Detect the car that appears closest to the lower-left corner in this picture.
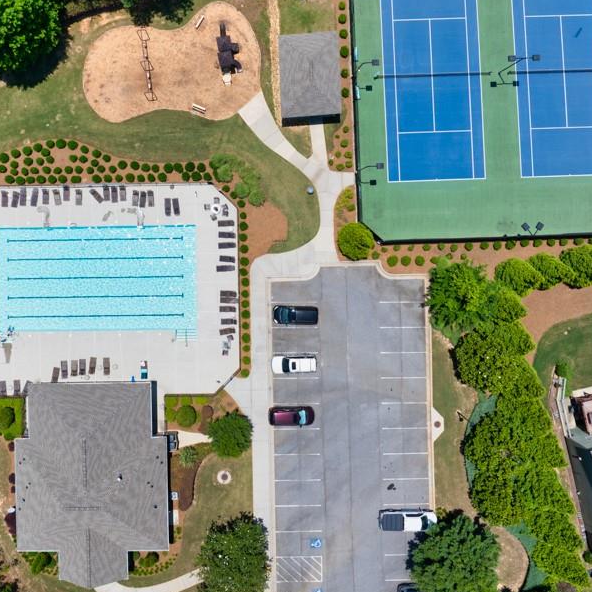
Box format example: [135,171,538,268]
[270,407,313,428]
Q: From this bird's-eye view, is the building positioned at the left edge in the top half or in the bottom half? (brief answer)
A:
bottom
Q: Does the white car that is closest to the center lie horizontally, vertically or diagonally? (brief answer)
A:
horizontally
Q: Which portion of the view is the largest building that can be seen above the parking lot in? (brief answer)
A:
top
